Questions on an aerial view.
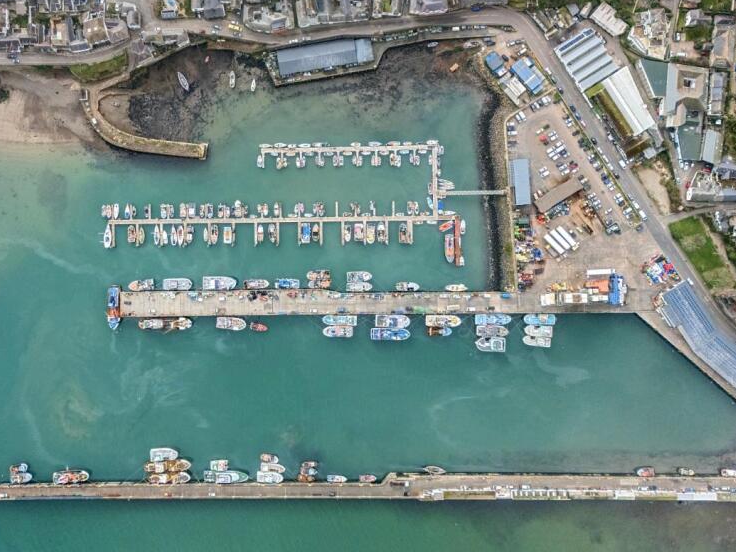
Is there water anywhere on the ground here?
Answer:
Yes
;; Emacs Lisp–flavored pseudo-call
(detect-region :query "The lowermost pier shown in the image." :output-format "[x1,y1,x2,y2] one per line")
[0,471,736,502]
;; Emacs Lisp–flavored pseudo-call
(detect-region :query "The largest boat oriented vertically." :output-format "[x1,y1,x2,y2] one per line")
[107,285,119,329]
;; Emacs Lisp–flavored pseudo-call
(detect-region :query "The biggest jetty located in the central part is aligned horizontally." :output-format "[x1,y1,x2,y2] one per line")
[120,290,516,318]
